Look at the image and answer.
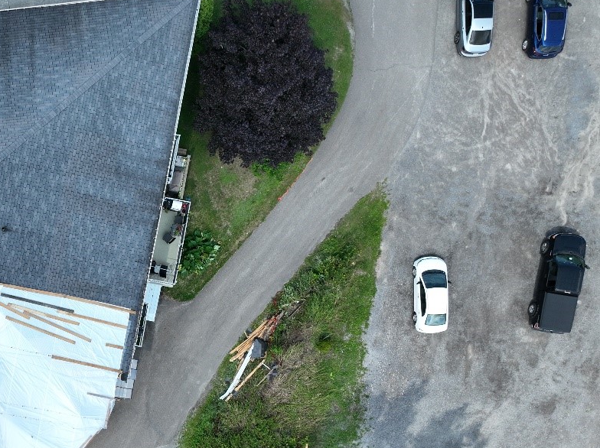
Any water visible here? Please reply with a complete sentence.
No, the picture contains no water.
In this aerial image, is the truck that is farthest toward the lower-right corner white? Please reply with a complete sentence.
No, from above the truck that is farthest toward the lower-right corner looks black.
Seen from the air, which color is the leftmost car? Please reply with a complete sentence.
The leftmost car looks white in the image.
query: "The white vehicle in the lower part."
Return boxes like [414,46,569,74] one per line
[411,257,453,333]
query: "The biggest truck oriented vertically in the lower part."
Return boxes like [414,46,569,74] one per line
[533,232,590,335]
